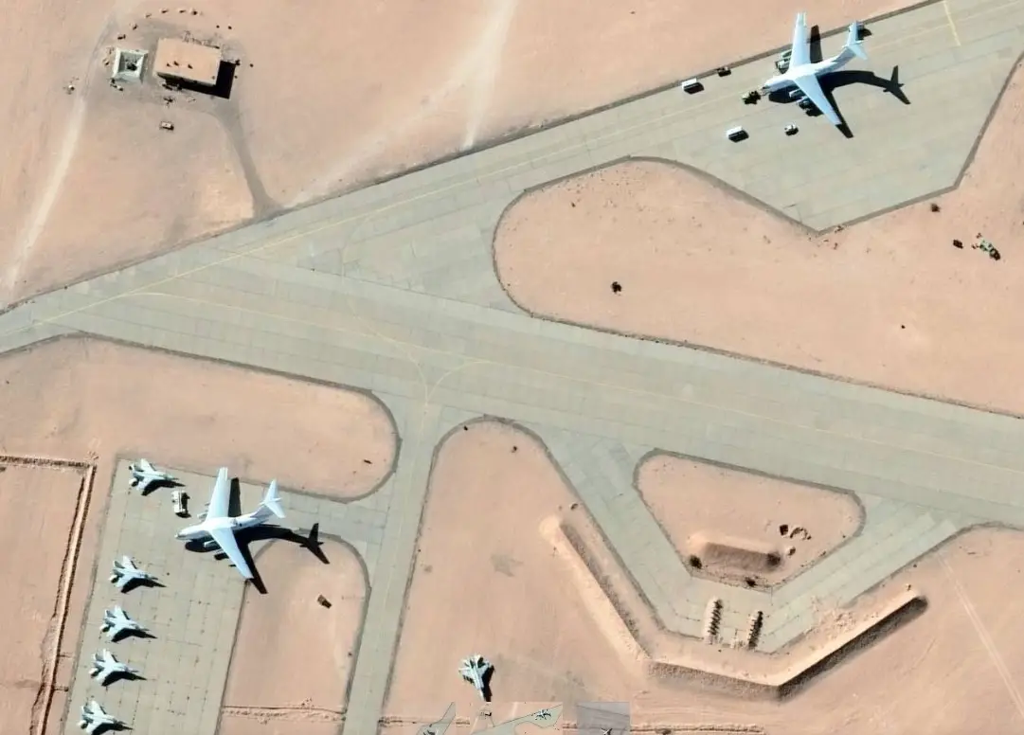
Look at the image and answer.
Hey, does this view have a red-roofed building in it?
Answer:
No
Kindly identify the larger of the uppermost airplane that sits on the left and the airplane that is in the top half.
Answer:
the airplane that is in the top half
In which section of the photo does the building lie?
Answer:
top left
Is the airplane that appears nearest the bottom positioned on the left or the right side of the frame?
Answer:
left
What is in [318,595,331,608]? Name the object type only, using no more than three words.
vehicle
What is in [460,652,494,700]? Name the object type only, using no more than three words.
airplane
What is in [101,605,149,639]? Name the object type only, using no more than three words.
airplane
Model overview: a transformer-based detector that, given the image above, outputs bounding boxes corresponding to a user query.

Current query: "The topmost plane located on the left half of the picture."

[130,457,175,491]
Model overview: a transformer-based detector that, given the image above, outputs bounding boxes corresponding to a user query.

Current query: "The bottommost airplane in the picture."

[78,700,123,734]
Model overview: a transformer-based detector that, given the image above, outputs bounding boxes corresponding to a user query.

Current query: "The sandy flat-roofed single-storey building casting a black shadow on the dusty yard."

[152,39,222,88]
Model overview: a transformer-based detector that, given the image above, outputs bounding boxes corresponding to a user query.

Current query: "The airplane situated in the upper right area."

[763,11,870,120]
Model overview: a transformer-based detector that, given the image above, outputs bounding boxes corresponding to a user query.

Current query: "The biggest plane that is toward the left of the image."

[175,464,282,577]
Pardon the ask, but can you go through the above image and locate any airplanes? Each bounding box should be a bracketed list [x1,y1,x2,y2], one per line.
[101,605,149,639]
[78,700,123,734]
[460,652,494,700]
[130,457,175,491]
[110,555,156,590]
[763,11,870,120]
[175,464,282,577]
[90,647,136,682]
